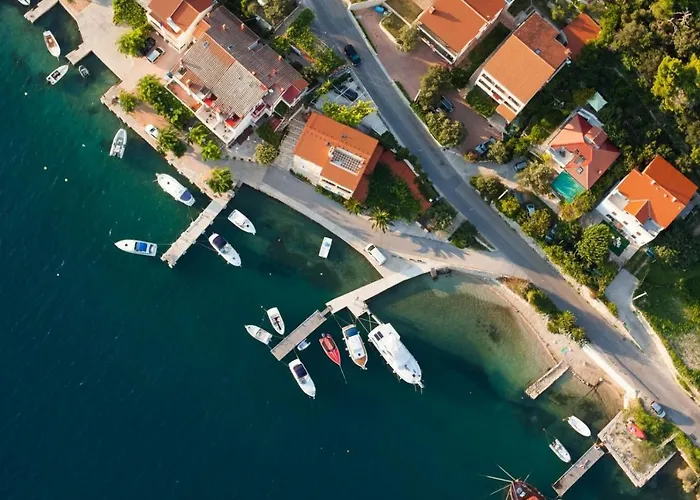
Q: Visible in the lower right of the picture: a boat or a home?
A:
boat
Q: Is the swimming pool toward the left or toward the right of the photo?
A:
right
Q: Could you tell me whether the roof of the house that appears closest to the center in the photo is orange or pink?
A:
orange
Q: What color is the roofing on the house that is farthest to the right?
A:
orange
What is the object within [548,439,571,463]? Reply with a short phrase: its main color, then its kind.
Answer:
white boat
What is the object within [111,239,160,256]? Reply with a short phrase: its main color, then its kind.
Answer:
white boat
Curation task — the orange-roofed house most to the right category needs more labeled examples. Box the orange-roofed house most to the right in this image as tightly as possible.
[595,146,698,236]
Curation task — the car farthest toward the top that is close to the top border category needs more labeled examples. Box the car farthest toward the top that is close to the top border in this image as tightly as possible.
[370,3,389,16]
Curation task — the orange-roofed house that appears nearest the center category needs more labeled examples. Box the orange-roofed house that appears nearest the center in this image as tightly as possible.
[292,112,383,202]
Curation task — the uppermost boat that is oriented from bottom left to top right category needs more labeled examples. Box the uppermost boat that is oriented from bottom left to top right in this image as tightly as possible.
[44,64,71,85]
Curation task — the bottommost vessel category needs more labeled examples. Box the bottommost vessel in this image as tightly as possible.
[487,464,538,500]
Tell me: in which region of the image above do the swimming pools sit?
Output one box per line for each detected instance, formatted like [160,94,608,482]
[550,170,584,205]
